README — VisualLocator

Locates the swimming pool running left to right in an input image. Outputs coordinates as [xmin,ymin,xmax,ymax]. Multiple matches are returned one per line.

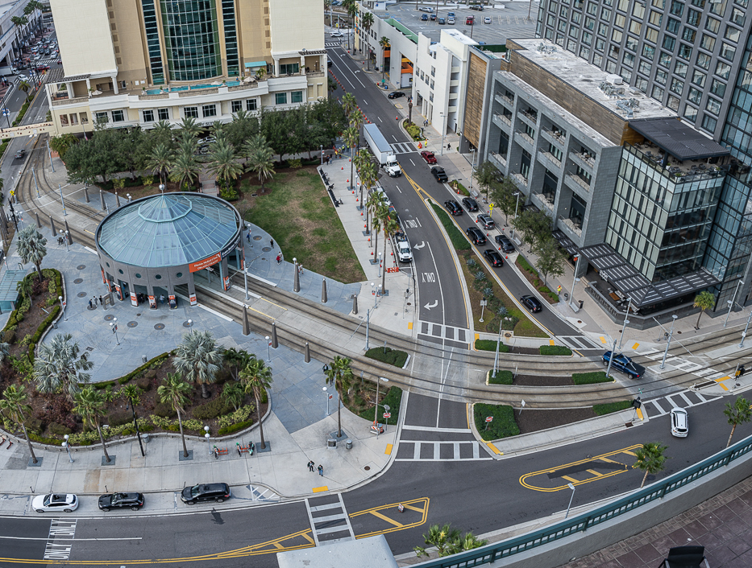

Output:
[146,80,240,93]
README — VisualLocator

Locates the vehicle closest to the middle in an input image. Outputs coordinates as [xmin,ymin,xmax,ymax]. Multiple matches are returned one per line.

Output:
[397,241,412,263]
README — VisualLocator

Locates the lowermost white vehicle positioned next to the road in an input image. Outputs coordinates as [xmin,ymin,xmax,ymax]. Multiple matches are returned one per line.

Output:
[32,492,79,516]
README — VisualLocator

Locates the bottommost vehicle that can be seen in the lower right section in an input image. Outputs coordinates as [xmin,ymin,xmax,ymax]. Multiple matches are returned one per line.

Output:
[668,410,691,440]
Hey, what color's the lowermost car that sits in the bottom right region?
white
